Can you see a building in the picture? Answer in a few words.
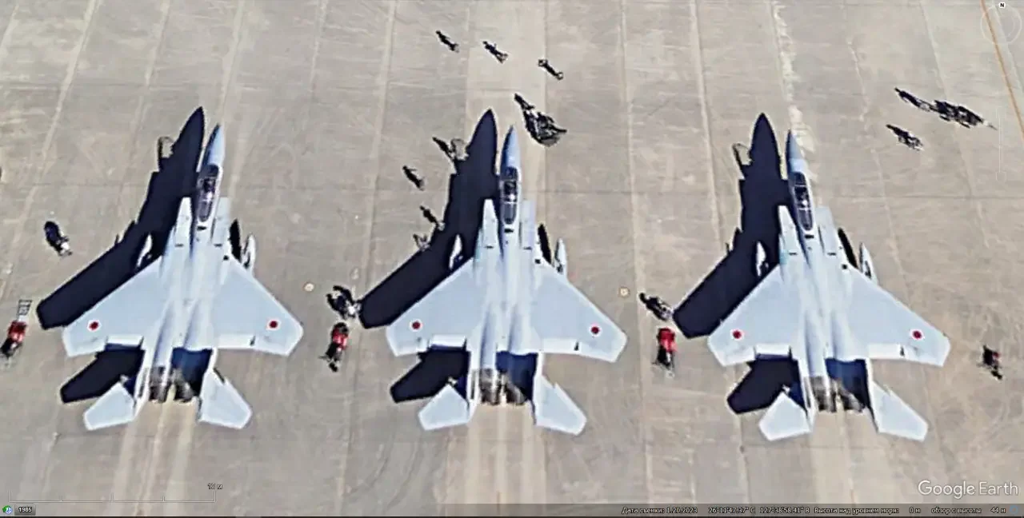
No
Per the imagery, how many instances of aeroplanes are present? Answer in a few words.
3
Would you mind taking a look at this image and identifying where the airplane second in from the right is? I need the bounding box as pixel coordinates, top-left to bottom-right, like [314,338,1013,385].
[385,127,627,434]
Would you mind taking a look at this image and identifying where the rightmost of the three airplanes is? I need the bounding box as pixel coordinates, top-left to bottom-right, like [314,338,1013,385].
[708,133,951,440]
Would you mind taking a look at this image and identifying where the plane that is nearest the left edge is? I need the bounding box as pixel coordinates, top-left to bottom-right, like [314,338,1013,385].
[60,125,303,430]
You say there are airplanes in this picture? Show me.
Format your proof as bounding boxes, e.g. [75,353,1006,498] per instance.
[708,133,951,440]
[385,127,627,434]
[60,125,303,430]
